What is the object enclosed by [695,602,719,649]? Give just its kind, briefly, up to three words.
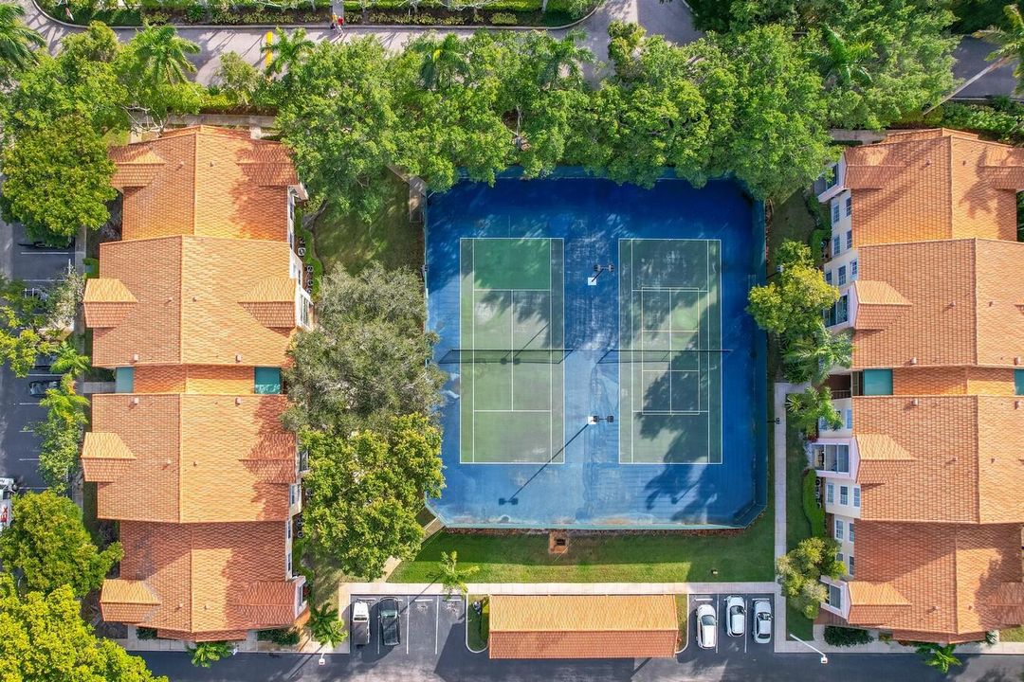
car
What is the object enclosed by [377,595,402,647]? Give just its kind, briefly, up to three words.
car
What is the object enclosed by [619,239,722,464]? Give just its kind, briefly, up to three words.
tennis court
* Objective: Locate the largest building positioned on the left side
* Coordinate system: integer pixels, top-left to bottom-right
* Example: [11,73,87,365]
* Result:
[74,124,315,642]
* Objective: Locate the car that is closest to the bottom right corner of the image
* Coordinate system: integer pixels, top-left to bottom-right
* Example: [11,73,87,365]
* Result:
[750,599,775,644]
